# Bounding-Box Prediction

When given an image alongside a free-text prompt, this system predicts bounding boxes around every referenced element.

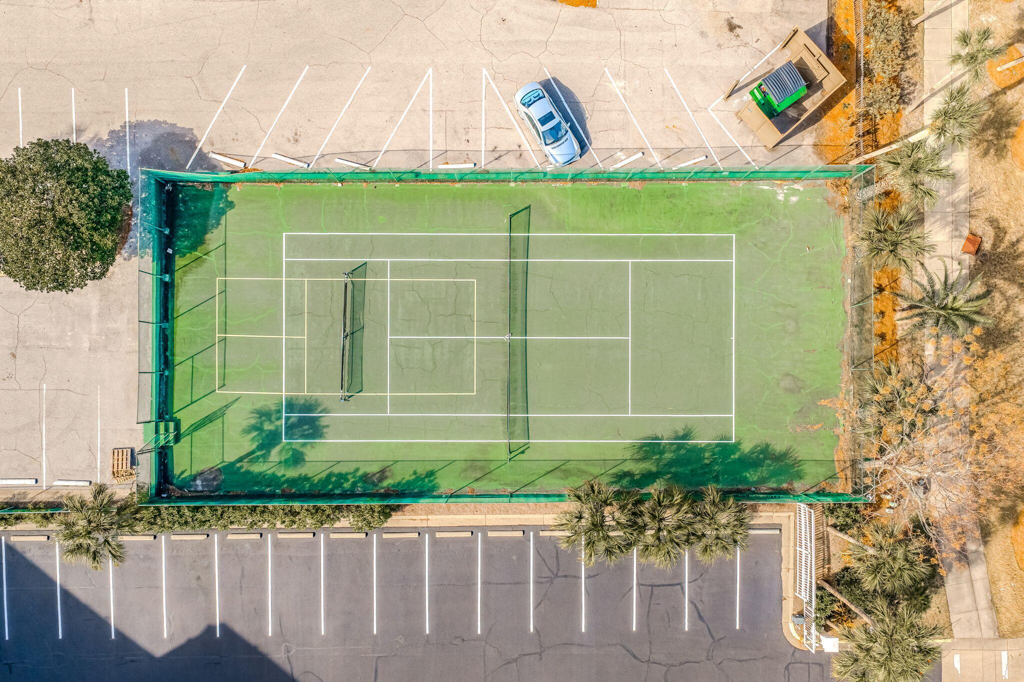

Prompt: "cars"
[515,80,580,169]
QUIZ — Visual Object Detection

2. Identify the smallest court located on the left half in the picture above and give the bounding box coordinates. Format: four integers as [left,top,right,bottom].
[216,278,476,395]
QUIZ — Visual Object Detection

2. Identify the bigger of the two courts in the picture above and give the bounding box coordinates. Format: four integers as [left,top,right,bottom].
[160,181,856,497]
